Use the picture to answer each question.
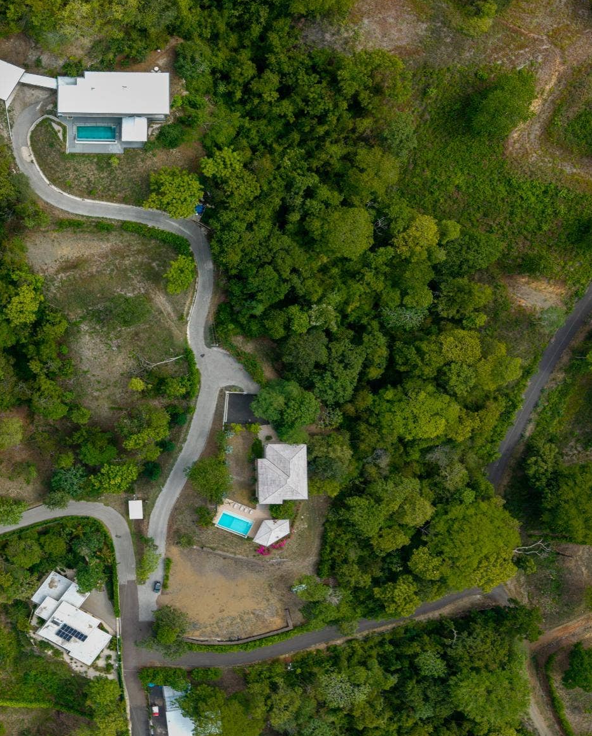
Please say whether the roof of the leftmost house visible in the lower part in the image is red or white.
white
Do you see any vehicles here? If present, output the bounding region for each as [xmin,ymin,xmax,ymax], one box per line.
[154,581,160,594]
[153,706,160,717]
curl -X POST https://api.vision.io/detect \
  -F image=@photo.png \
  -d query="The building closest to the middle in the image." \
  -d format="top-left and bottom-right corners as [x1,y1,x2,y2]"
[254,443,308,504]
